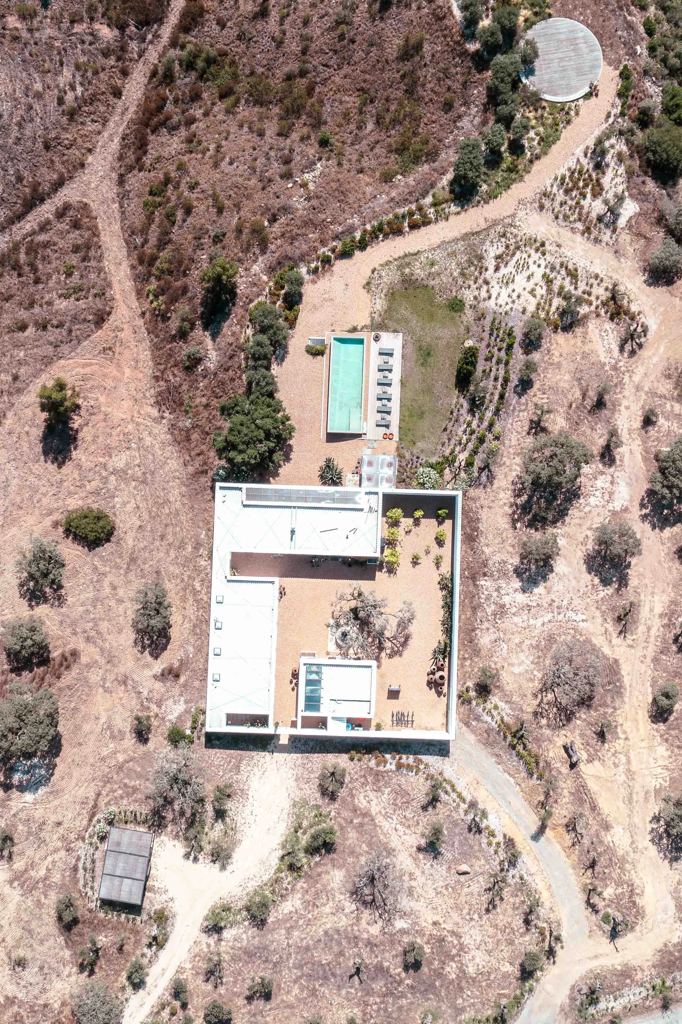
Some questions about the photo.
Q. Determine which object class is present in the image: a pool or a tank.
pool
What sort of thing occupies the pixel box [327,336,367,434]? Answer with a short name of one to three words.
swimming pool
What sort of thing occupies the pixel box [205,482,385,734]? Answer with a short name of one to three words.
house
